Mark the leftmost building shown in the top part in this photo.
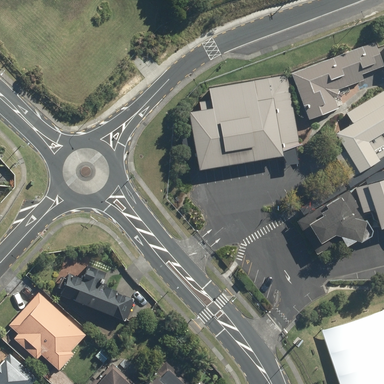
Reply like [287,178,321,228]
[190,76,301,170]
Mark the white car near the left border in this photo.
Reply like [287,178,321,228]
[12,292,25,308]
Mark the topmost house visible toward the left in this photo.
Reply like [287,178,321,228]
[60,267,133,322]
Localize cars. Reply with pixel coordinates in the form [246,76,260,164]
[12,292,25,308]
[258,276,274,294]
[132,290,148,306]
[20,284,33,300]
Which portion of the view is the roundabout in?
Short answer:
left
